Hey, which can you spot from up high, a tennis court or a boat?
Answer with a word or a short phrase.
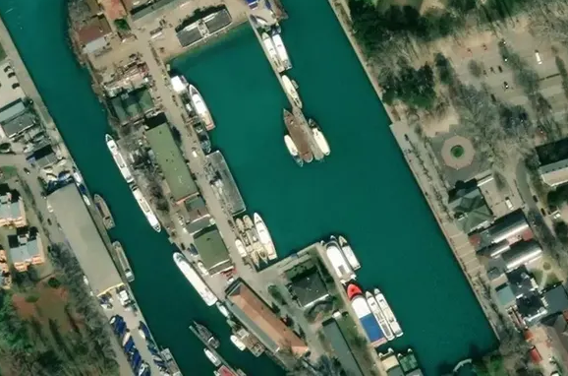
boat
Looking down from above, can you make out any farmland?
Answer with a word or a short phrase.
No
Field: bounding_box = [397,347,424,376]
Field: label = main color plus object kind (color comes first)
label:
green boat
